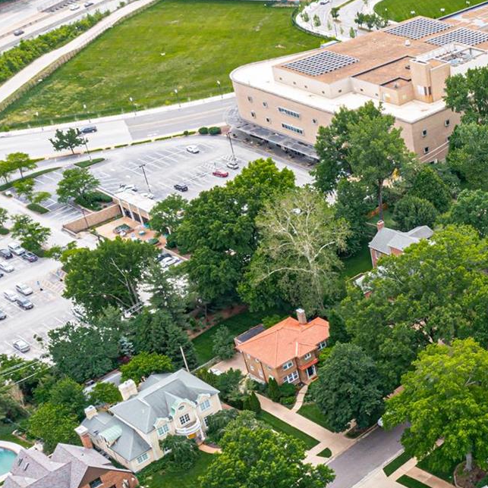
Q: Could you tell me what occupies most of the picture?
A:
trees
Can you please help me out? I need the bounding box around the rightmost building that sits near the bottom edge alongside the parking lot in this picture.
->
[75,368,220,477]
